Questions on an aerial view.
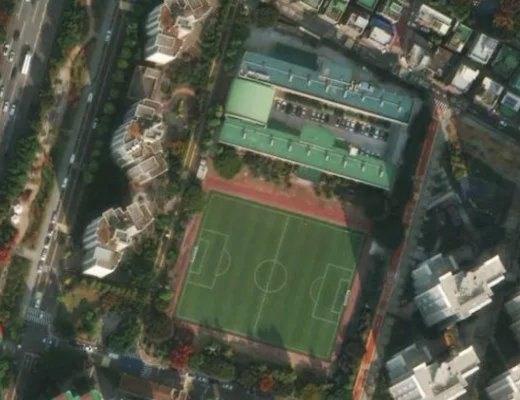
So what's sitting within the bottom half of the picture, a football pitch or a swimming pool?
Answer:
football pitch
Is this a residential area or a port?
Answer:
residential area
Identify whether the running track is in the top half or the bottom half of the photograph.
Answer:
bottom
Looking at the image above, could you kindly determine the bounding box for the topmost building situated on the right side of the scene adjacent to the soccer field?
[216,51,413,191]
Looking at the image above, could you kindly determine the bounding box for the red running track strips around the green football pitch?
[169,173,376,369]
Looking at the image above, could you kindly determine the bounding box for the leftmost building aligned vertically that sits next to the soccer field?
[112,70,168,189]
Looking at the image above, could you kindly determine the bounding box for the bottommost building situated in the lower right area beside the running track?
[385,345,482,400]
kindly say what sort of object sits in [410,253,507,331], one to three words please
building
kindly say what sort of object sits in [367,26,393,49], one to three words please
house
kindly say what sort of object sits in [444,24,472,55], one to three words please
house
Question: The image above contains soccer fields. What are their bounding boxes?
[176,188,362,362]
